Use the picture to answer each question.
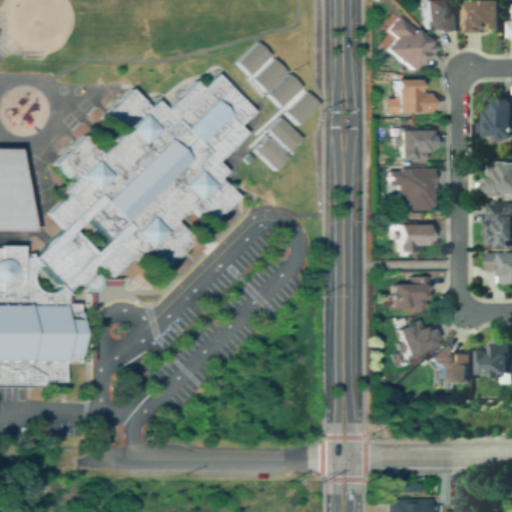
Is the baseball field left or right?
left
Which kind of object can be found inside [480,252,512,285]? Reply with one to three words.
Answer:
house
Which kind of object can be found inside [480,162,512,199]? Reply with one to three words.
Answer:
house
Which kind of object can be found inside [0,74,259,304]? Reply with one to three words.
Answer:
building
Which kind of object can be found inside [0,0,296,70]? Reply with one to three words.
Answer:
baseball field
